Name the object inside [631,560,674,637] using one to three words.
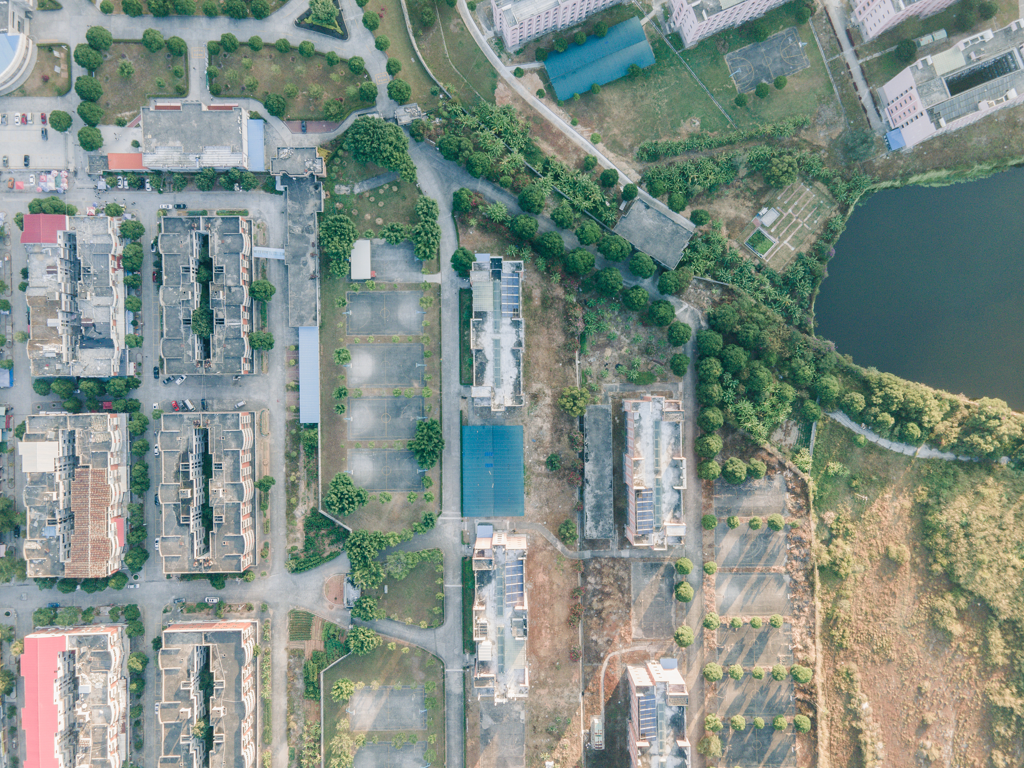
sports court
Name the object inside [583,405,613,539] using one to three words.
building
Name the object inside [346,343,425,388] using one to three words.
basketball court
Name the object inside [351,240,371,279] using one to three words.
shed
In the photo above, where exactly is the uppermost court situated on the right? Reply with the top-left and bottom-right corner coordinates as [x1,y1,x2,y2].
[724,27,810,93]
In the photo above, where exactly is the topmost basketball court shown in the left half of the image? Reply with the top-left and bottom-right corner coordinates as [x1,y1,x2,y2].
[346,238,424,284]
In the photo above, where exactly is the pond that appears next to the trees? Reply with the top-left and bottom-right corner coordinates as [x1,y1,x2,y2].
[816,169,1024,413]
